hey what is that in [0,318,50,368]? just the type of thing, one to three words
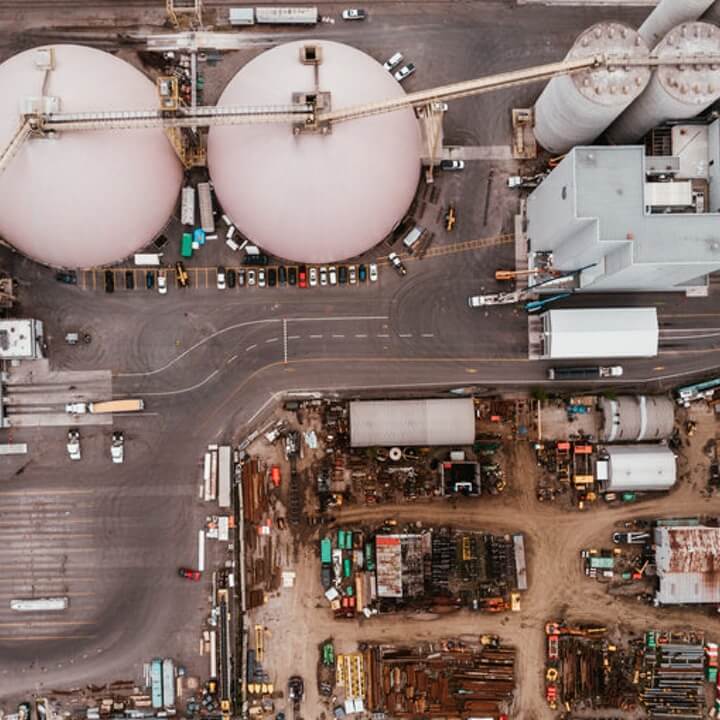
shed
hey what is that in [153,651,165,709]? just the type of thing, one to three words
vehicle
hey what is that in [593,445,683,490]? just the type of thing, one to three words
shed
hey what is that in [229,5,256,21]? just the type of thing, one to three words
rail car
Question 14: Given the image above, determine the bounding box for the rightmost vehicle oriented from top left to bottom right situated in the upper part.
[387,250,409,277]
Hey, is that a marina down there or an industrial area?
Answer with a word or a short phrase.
industrial area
